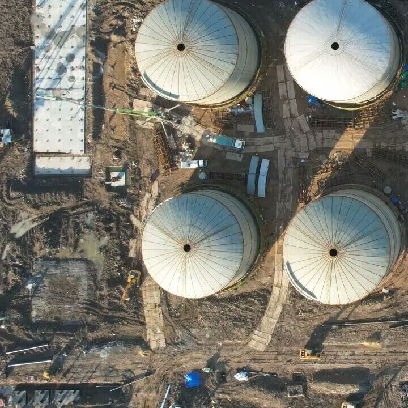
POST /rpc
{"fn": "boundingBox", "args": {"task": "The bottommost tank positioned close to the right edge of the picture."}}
[283,184,404,305]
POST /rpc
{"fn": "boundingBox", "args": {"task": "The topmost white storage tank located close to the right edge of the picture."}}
[284,0,404,105]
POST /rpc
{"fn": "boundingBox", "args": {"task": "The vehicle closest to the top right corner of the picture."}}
[208,135,245,152]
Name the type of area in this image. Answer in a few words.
industrial area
